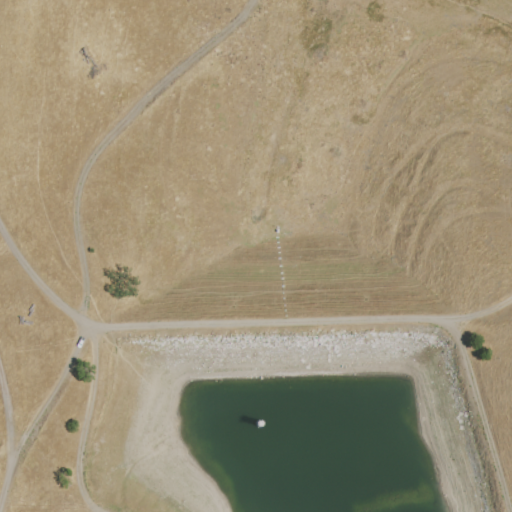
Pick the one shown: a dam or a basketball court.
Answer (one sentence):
This aerial view contains a dam.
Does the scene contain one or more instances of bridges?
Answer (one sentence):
No, no bridge can be seen from above.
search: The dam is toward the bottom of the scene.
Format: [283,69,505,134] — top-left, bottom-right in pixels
[118,232,460,382]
